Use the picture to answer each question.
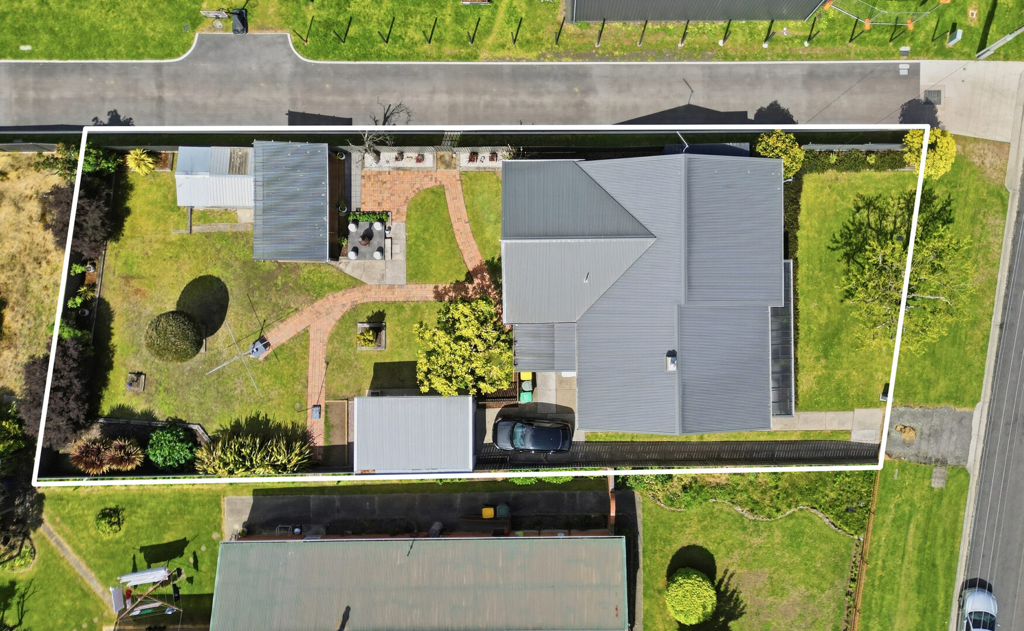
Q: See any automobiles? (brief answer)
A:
Yes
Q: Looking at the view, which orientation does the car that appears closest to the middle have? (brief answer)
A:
from left to right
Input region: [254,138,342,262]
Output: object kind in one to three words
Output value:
shed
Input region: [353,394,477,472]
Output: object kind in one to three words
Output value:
building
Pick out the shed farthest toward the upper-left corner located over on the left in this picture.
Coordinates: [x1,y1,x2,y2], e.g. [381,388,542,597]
[170,146,254,208]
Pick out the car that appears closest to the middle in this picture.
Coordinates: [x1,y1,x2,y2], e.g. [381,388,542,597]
[493,414,573,456]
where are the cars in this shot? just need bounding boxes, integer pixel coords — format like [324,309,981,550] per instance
[493,414,573,456]
[961,585,1006,631]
